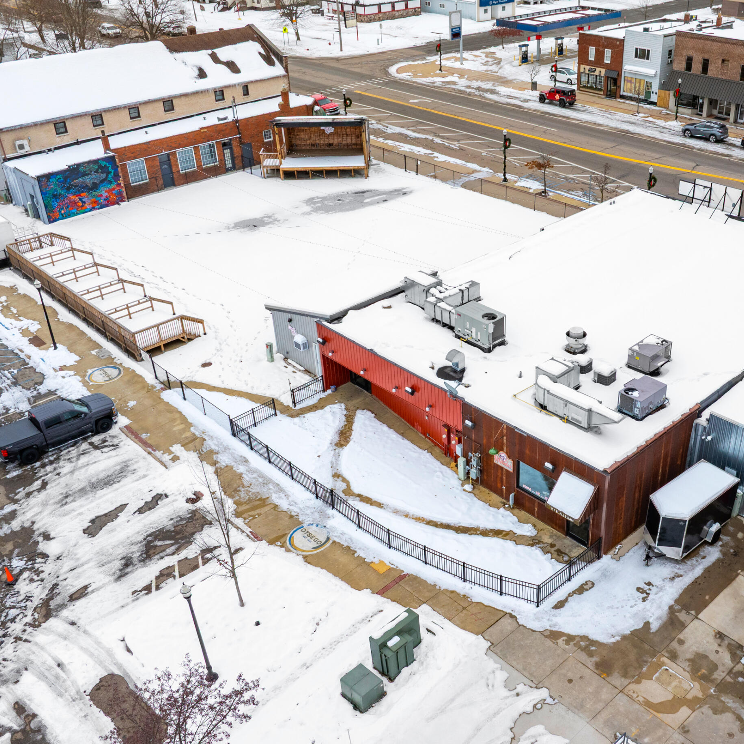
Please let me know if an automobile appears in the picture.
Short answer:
Yes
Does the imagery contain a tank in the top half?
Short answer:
No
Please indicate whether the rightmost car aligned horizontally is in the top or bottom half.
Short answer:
top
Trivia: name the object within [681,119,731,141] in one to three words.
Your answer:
car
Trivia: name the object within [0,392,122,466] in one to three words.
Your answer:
truck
